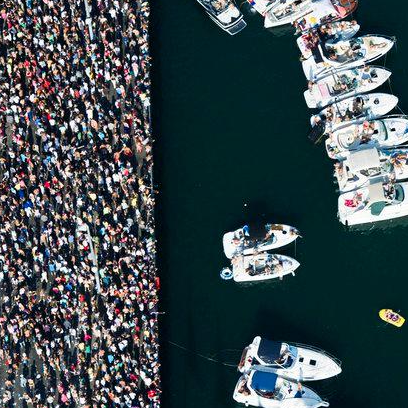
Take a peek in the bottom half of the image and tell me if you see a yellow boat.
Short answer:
Yes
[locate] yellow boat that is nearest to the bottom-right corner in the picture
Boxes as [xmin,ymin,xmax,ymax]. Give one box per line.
[379,309,404,326]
